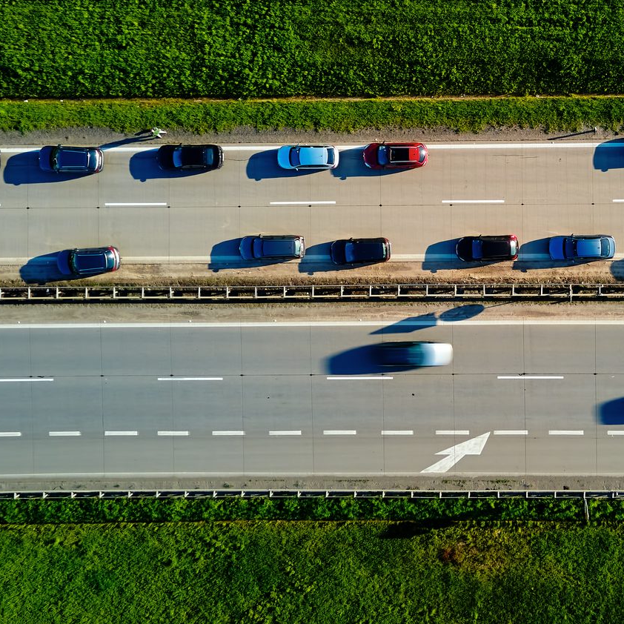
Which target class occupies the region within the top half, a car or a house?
car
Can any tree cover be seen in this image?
No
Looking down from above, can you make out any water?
No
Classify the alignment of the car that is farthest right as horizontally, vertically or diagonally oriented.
horizontally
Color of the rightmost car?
blue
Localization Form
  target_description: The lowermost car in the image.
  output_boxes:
[383,339,453,370]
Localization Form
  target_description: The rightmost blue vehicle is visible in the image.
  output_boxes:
[549,233,616,263]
